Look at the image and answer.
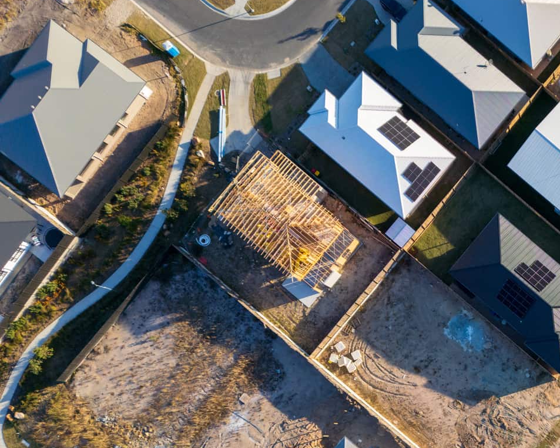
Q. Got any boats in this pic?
No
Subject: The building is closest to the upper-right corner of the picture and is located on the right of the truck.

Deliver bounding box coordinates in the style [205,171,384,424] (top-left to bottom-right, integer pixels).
[450,0,560,71]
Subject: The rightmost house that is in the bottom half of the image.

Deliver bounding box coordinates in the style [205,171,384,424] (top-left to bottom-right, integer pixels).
[448,212,560,372]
